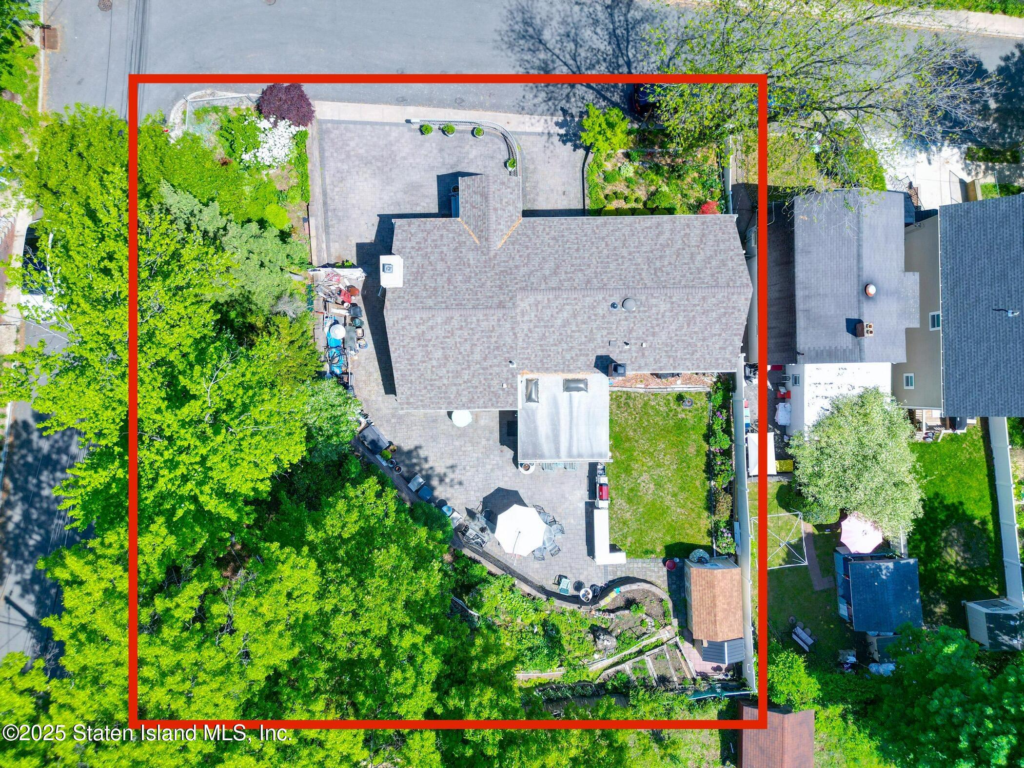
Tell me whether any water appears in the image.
No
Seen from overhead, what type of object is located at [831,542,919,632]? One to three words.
shed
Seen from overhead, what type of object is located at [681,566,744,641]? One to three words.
shed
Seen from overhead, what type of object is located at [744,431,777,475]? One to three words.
tent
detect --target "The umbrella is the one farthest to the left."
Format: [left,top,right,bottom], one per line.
[495,504,546,557]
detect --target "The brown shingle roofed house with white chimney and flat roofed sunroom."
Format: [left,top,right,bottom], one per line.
[372,173,752,465]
